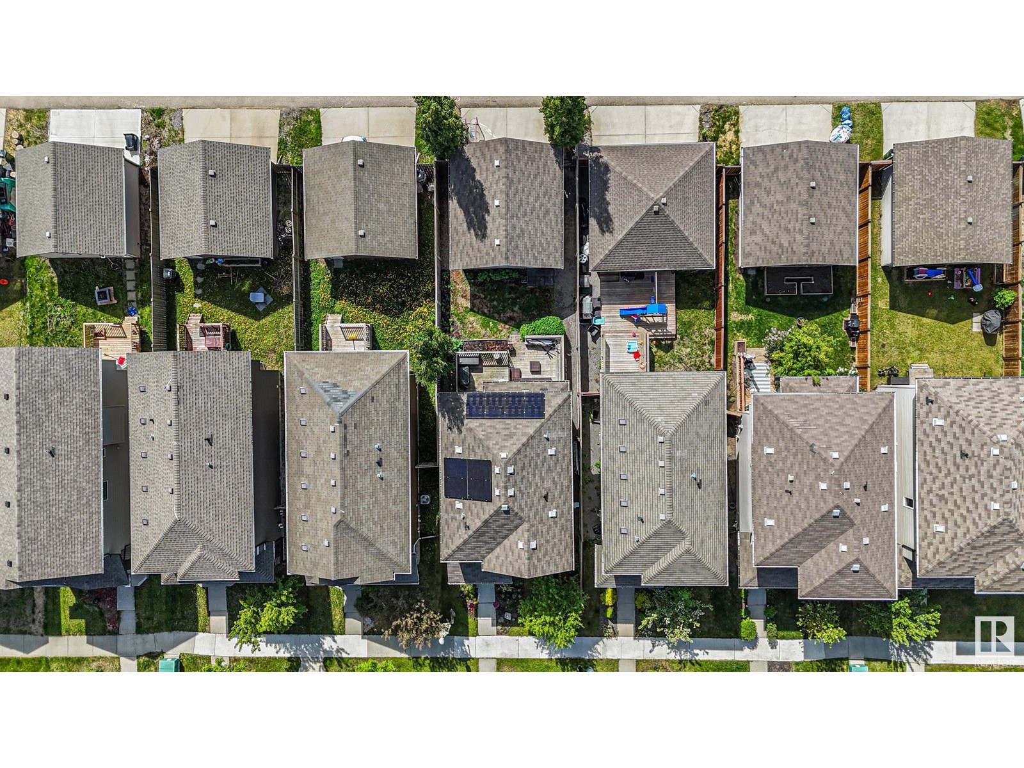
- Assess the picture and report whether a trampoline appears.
No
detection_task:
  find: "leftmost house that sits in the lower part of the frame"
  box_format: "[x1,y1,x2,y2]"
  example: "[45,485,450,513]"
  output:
[0,346,146,587]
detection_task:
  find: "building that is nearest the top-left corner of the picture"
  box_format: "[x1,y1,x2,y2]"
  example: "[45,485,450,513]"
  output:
[15,141,140,260]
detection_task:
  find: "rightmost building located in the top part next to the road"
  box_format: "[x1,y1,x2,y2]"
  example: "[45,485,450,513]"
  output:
[880,135,1013,269]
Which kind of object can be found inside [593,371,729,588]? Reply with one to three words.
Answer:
house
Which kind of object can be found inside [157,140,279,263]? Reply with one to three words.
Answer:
building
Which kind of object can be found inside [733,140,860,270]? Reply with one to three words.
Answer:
building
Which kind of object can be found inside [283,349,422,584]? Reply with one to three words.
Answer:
house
